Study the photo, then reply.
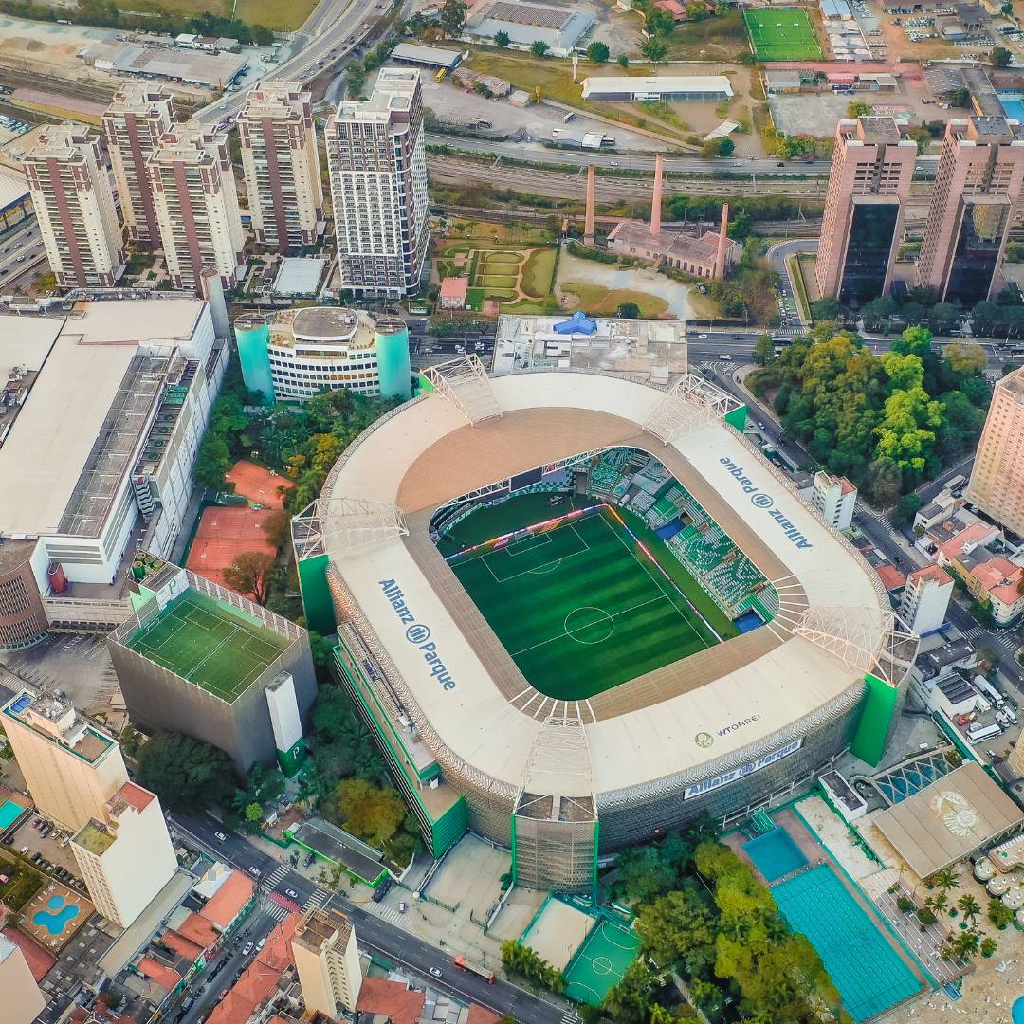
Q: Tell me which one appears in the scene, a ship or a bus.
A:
bus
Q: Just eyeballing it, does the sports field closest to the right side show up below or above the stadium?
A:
above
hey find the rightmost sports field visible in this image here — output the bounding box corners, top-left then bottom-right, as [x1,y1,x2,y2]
[744,7,823,61]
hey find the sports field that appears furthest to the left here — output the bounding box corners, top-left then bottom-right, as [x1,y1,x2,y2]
[118,589,294,704]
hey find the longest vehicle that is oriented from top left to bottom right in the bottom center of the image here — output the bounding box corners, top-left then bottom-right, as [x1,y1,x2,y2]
[448,945,501,985]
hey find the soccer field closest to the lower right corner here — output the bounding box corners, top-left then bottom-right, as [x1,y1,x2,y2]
[443,496,739,699]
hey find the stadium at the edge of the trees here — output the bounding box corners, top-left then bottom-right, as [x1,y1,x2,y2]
[289,353,919,892]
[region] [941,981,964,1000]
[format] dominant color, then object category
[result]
blue swimming pool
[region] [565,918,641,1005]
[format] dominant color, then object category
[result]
green sports court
